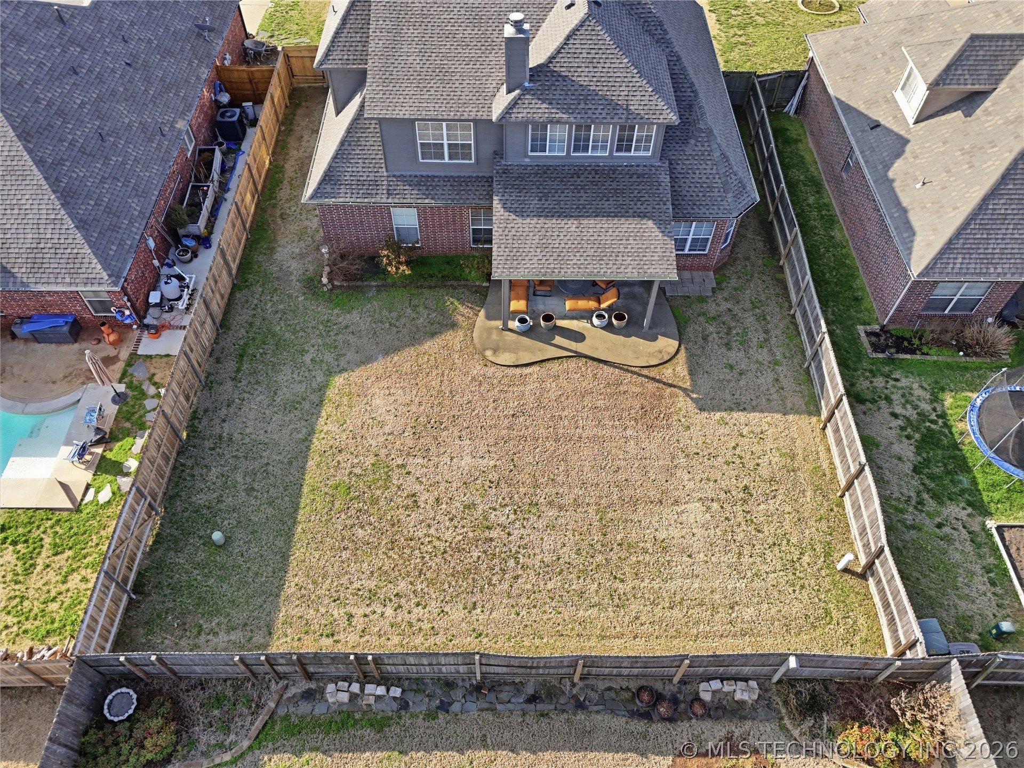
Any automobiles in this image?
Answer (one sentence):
No, I can see no automobile in this picture.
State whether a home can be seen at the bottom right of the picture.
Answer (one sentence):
No, I see no home at the bottom right of the picture.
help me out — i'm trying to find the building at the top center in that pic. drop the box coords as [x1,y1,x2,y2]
[299,0,764,330]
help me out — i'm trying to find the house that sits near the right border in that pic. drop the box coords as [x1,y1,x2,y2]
[791,0,1024,332]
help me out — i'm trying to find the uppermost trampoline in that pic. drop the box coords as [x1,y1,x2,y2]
[947,341,1024,485]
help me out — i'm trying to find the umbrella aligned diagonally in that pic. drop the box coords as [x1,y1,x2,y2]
[73,351,127,405]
